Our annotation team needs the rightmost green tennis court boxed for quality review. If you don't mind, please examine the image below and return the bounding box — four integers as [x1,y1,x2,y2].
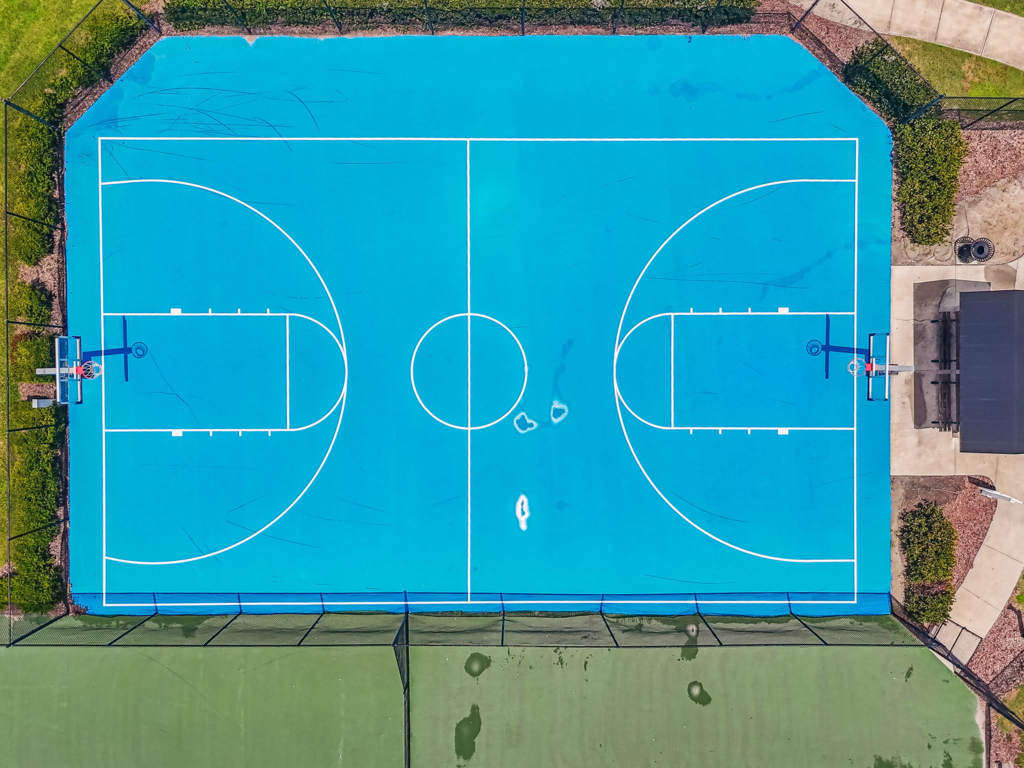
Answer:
[409,614,984,768]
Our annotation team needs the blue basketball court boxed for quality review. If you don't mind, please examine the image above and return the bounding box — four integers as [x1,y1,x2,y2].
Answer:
[65,34,893,615]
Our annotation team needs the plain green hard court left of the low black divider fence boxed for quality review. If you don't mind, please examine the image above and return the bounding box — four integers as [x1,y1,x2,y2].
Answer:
[0,613,410,768]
